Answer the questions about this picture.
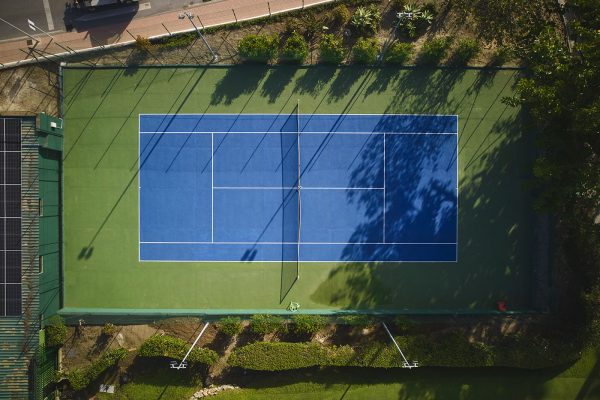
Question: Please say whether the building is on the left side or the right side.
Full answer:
It is on the left.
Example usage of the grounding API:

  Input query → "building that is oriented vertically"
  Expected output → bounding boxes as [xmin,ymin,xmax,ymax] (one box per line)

[0,113,59,400]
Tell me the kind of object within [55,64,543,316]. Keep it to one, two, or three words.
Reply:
tennis court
